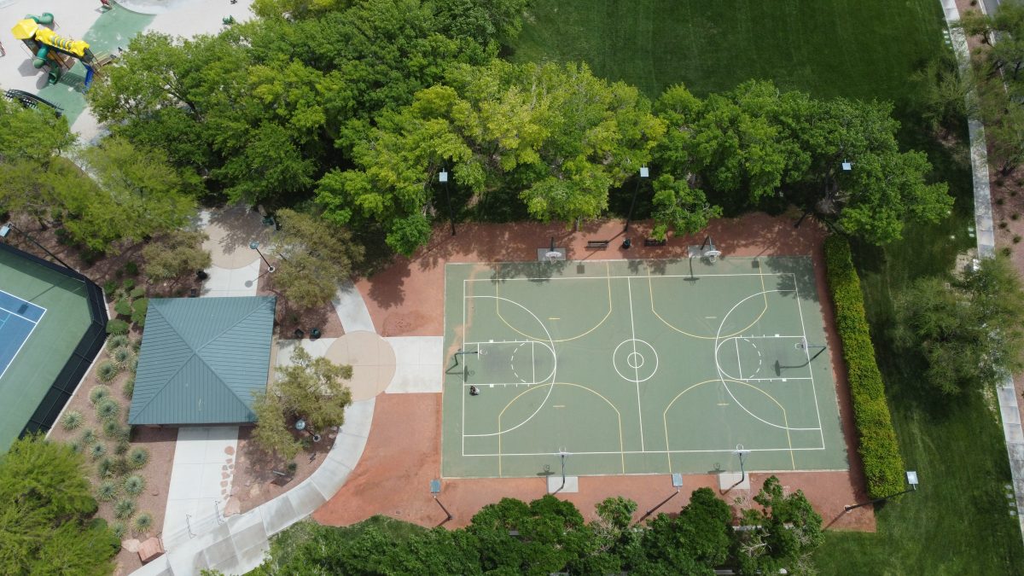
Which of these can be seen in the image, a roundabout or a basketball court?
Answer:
basketball court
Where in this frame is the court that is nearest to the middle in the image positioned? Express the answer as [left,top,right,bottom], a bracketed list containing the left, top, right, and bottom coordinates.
[442,255,849,478]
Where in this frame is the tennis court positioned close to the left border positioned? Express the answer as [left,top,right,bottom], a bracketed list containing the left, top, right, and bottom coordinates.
[0,248,111,463]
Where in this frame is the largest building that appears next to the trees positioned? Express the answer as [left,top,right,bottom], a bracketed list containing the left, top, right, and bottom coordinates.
[126,294,276,426]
